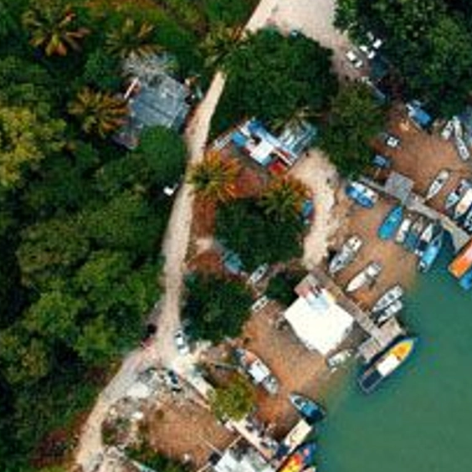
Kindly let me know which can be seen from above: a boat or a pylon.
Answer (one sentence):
There is a boat in the scene.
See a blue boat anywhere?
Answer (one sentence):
Yes, the image includes a blue boat.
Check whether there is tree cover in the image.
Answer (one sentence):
Yes, there's tree cover in this view.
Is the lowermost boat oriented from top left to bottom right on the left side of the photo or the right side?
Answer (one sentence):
You can find the lowermost boat oriented from top left to bottom right on the right side of the picture.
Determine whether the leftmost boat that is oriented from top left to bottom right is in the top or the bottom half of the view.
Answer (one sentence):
It is in the bottom half that the leftmost boat that is oriented from top left to bottom right appears.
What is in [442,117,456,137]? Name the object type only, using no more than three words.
boat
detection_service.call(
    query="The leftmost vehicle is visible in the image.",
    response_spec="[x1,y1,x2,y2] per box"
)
[140,318,159,342]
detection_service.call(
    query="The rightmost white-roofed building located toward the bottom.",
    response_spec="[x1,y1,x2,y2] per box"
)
[285,275,363,356]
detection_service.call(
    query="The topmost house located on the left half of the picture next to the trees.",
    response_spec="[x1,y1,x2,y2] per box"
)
[122,70,198,130]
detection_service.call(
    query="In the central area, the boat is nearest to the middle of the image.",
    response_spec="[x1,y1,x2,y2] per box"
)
[250,267,272,282]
